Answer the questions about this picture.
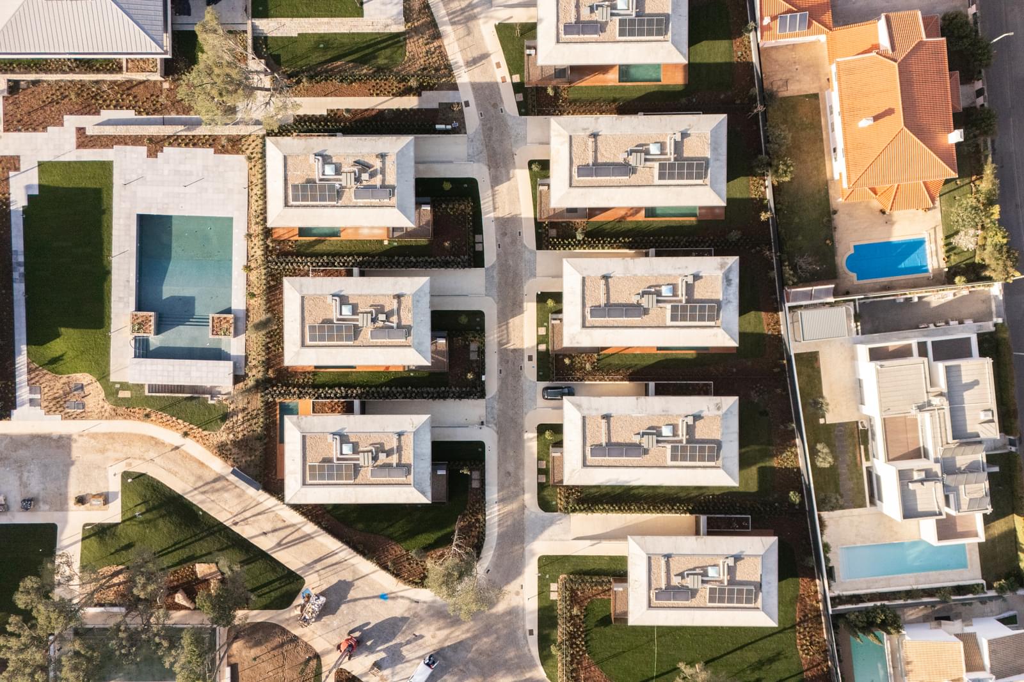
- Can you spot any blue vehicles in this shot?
No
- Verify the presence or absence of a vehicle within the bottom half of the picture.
Yes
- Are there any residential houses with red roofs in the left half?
No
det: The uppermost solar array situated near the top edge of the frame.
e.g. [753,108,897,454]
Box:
[619,19,665,41]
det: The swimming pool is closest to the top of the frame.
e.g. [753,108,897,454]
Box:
[619,65,661,81]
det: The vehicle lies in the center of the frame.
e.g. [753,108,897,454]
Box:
[544,386,574,400]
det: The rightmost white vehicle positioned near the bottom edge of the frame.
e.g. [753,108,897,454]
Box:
[409,654,438,682]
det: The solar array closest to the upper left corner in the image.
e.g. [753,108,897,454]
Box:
[289,183,335,205]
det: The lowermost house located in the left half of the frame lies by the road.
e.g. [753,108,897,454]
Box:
[277,400,448,504]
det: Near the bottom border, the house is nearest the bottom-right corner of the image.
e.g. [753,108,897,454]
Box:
[891,606,1024,682]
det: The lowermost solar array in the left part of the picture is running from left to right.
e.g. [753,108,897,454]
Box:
[307,464,353,485]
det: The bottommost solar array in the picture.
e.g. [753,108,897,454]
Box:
[709,585,755,606]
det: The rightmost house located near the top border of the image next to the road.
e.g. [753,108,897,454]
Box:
[819,7,973,211]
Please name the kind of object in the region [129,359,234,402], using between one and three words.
building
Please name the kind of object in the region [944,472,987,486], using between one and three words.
solar array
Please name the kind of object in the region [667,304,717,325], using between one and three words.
solar array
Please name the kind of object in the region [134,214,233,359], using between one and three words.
swimming pool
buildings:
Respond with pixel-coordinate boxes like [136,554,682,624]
[819,7,973,211]
[0,0,173,58]
[793,306,854,341]
[549,256,739,353]
[525,0,688,90]
[537,114,727,223]
[891,606,1024,682]
[283,277,449,371]
[266,136,434,240]
[129,359,234,402]
[549,397,739,486]
[277,400,448,504]
[610,536,778,626]
[843,334,1000,546]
